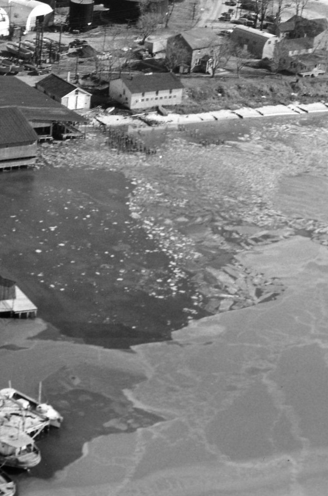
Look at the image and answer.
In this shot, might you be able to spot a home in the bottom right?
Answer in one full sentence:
No, no home is visible in the bottom right.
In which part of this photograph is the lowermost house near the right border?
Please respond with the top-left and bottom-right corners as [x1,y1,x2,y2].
[270,44,322,74]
